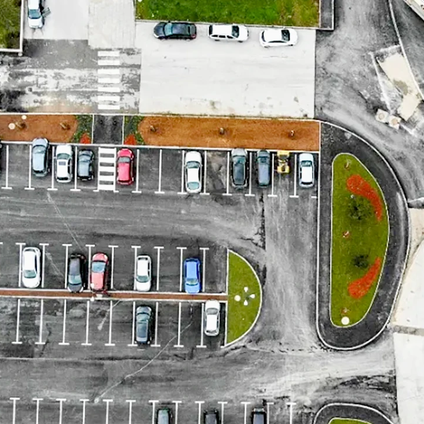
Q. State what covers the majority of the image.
paved ground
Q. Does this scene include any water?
No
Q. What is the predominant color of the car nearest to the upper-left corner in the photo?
white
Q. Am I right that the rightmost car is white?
Yes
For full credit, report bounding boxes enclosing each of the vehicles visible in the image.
[297,152,316,189]
[156,407,174,424]
[258,27,298,48]
[24,0,51,31]
[254,149,272,189]
[202,299,222,338]
[18,245,42,288]
[29,137,50,178]
[53,144,74,184]
[88,252,110,293]
[75,148,94,183]
[250,407,266,424]
[277,151,290,172]
[132,254,152,293]
[64,252,85,294]
[133,304,153,346]
[229,148,249,191]
[206,22,249,43]
[115,148,136,187]
[183,150,203,194]
[182,256,201,295]
[153,20,197,42]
